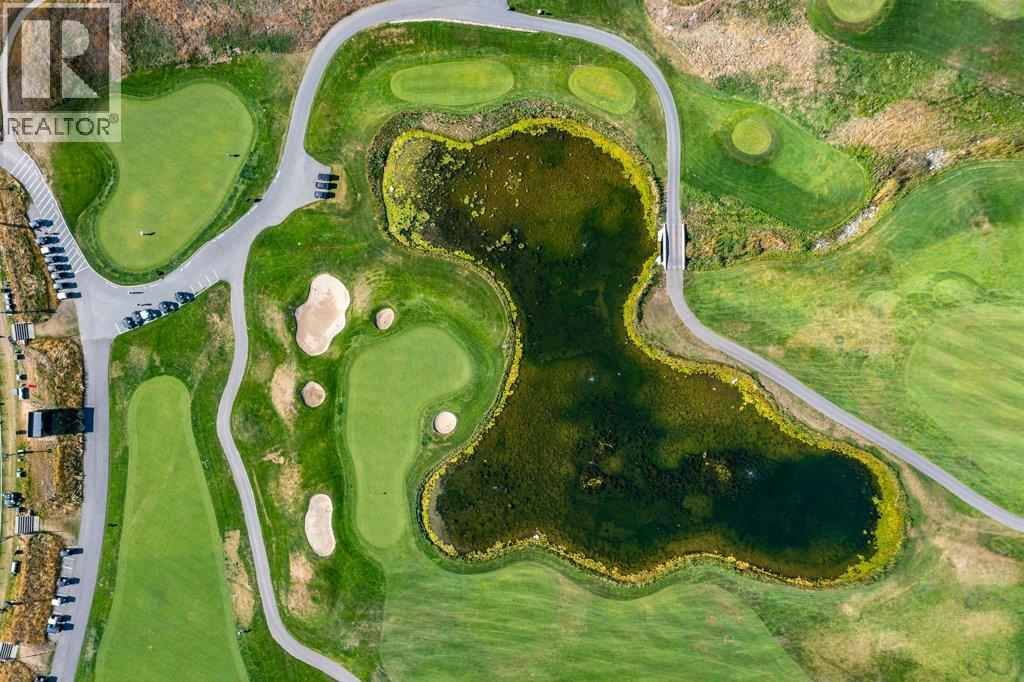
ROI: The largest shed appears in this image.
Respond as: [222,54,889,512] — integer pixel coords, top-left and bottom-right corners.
[27,409,62,438]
